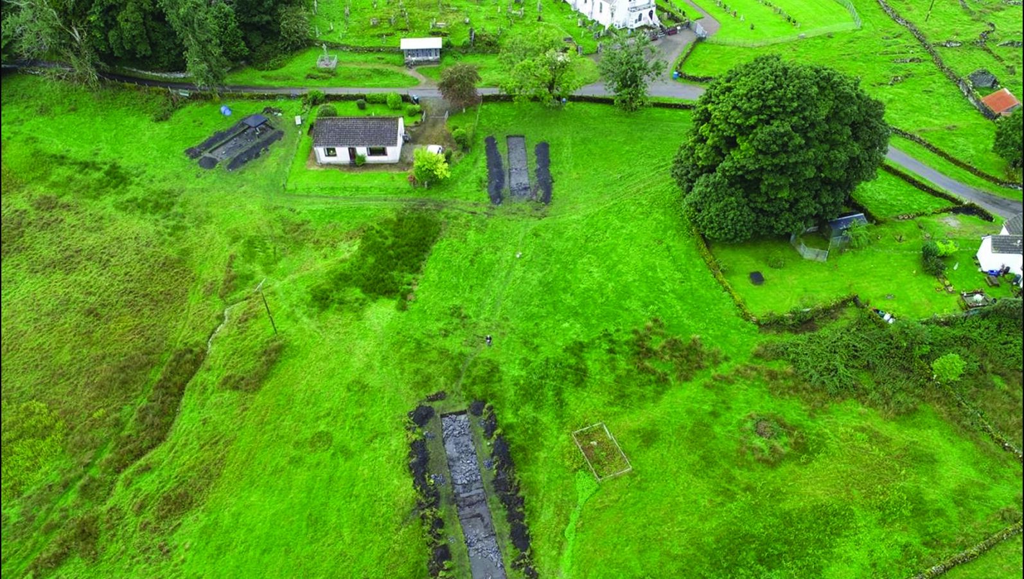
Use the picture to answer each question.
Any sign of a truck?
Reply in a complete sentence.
No, I find no truck anywhere in the image.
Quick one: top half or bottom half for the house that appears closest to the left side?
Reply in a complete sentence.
You can find the house that appears closest to the left side in the top half.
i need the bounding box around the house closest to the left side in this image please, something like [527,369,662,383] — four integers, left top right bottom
[313,117,403,167]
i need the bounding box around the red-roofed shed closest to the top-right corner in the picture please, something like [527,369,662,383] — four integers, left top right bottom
[978,88,1021,122]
